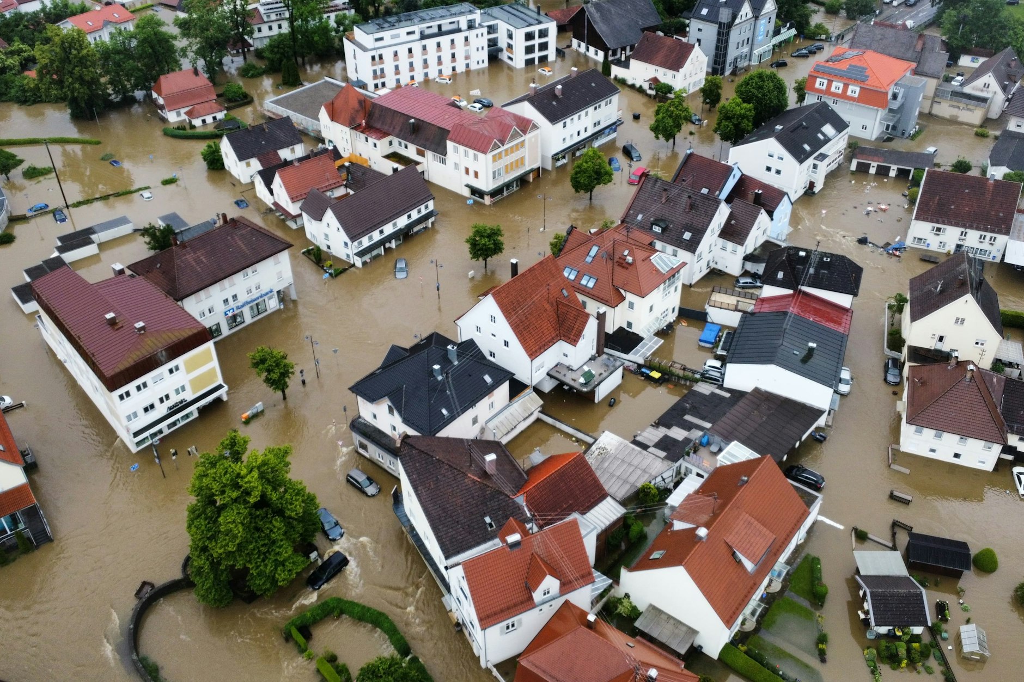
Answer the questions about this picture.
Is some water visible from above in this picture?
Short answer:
Yes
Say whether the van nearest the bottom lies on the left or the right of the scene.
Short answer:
left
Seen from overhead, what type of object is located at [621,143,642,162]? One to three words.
vehicle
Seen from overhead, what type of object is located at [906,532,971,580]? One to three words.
shed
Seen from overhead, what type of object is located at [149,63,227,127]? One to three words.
house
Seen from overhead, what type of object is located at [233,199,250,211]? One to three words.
vehicle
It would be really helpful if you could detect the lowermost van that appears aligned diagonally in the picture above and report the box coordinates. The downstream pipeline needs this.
[306,547,350,593]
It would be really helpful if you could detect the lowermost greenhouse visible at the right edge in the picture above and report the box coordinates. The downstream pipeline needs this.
[956,624,991,664]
